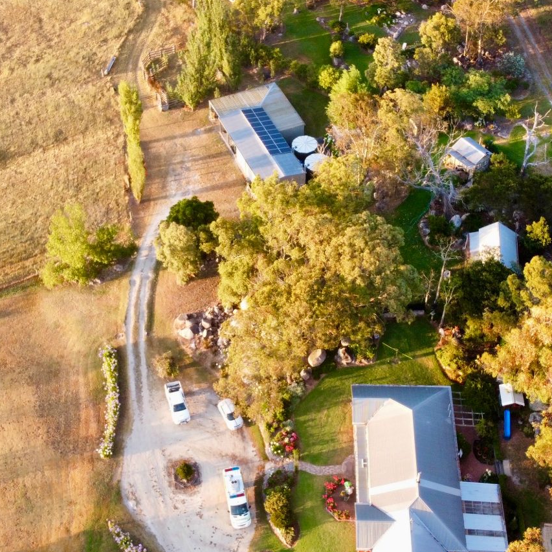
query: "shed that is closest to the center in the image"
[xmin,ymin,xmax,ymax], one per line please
[203,82,300,193]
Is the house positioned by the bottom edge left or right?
right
